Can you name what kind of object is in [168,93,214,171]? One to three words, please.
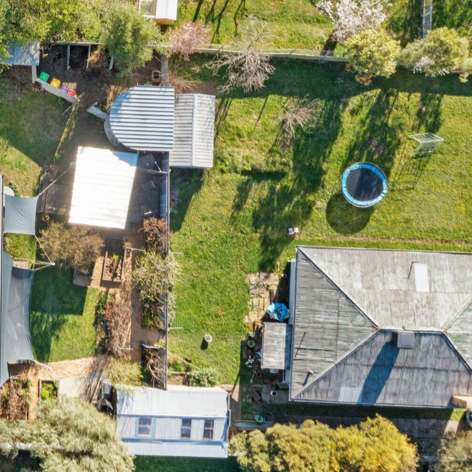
shed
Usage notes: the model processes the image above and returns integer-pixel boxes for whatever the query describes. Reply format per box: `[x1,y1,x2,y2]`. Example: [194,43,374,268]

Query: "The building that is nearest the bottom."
[110,383,230,458]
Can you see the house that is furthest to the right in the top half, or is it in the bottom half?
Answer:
bottom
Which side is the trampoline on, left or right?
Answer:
right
